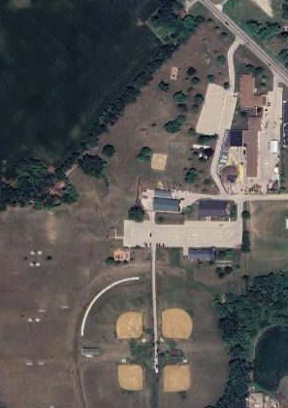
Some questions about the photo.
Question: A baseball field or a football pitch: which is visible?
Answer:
baseball field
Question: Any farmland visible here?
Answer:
Yes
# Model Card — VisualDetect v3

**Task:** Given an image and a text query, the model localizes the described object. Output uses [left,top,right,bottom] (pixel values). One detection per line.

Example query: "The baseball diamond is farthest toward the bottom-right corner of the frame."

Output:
[164,365,190,393]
